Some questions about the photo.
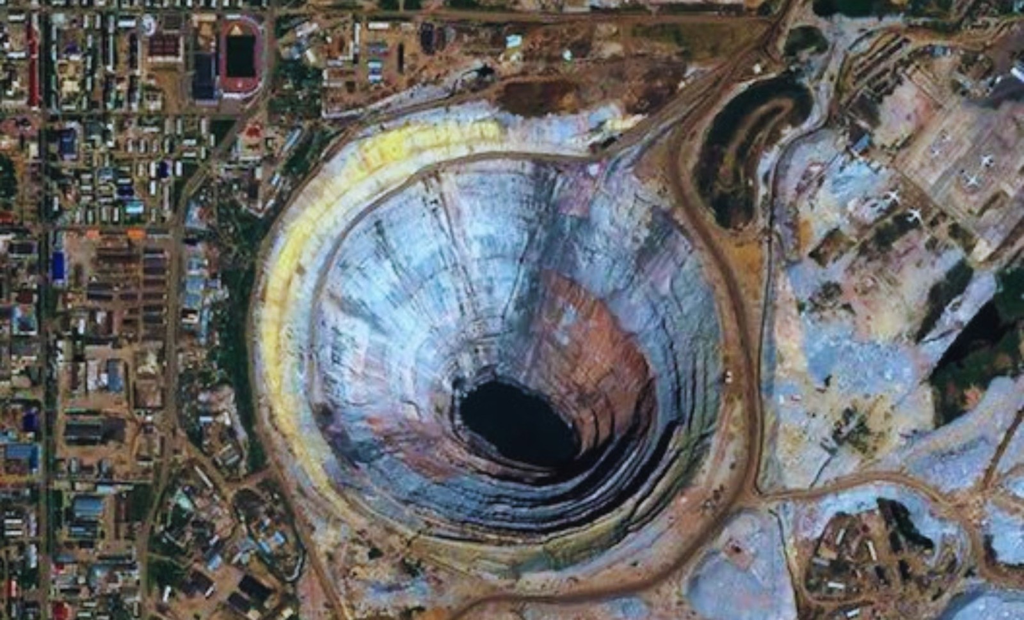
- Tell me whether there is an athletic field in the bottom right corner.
No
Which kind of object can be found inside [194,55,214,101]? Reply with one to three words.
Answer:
building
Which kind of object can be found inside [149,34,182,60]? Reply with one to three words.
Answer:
building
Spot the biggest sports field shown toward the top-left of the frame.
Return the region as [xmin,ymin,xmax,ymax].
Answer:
[227,35,255,77]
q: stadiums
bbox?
[219,12,264,101]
